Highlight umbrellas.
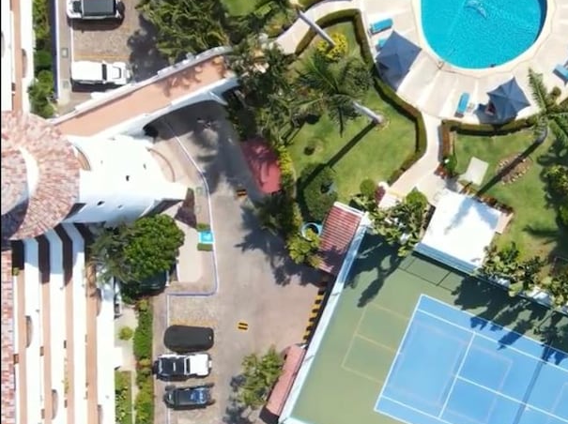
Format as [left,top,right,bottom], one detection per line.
[376,26,425,74]
[488,79,526,120]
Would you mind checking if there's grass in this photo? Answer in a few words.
Yes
